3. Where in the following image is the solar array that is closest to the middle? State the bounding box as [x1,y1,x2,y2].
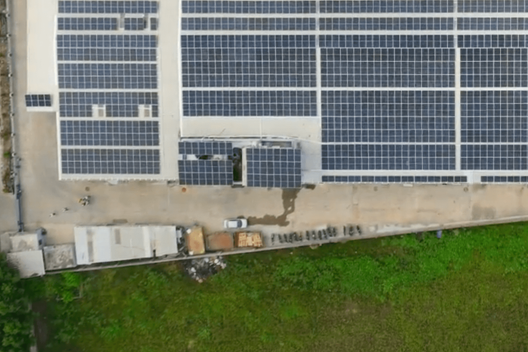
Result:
[247,148,301,187]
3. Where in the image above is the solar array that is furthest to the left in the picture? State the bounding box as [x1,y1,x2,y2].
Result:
[25,94,52,106]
